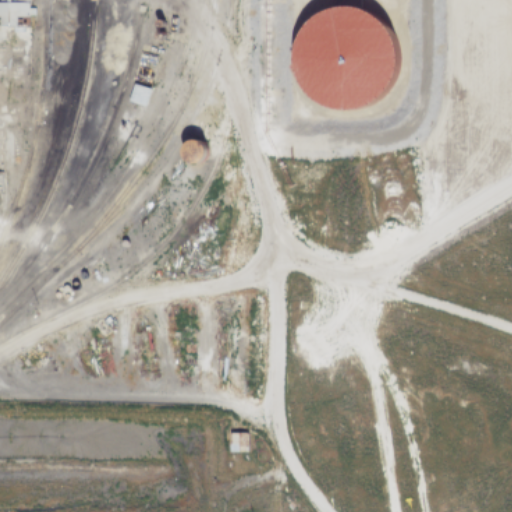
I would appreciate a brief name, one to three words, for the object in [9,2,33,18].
building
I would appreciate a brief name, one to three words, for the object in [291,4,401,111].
storage tank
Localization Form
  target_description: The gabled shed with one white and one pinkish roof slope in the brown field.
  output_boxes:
[230,432,250,452]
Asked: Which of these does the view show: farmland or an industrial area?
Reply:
industrial area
